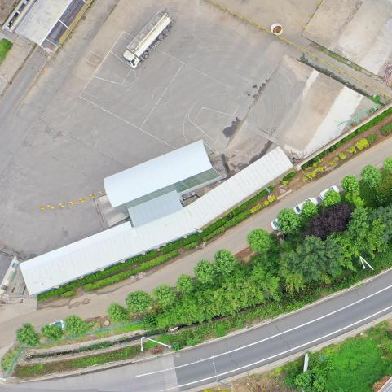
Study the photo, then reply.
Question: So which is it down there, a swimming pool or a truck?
truck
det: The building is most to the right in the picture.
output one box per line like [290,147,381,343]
[185,147,296,230]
